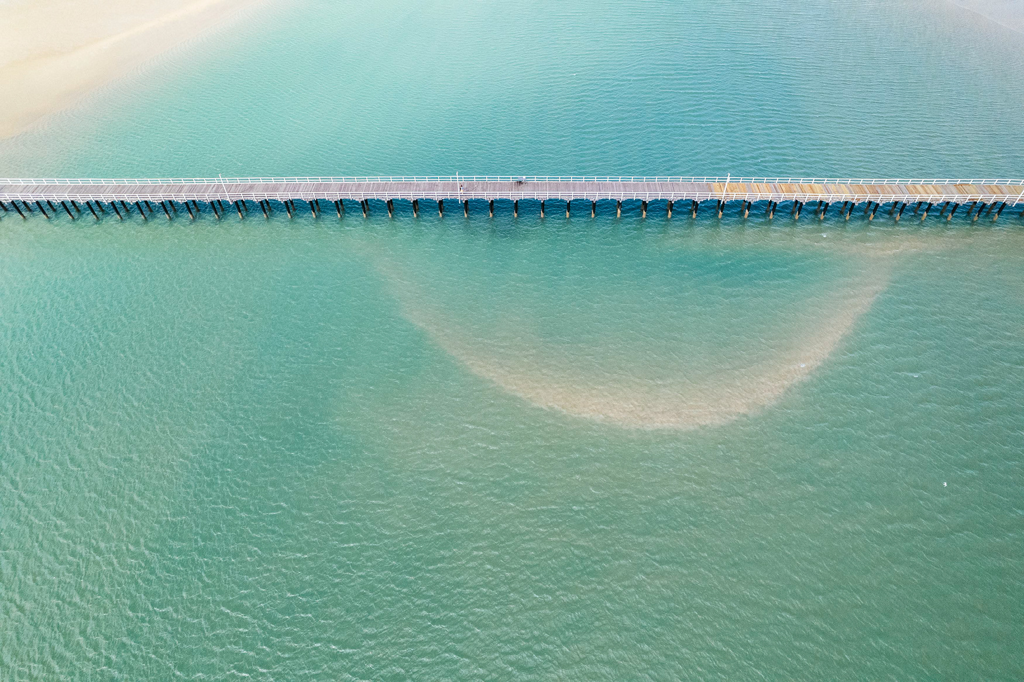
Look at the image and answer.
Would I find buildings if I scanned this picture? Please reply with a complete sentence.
No, no building can be seen from above.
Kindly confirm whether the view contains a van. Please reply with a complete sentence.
No, I can't see a single van in this photo.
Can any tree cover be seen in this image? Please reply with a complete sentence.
No, there is no tree cover in the image.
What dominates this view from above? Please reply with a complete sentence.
What you mostly see from above here is water.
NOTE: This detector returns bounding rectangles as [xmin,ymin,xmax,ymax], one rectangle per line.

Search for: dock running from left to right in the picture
[0,176,1024,220]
